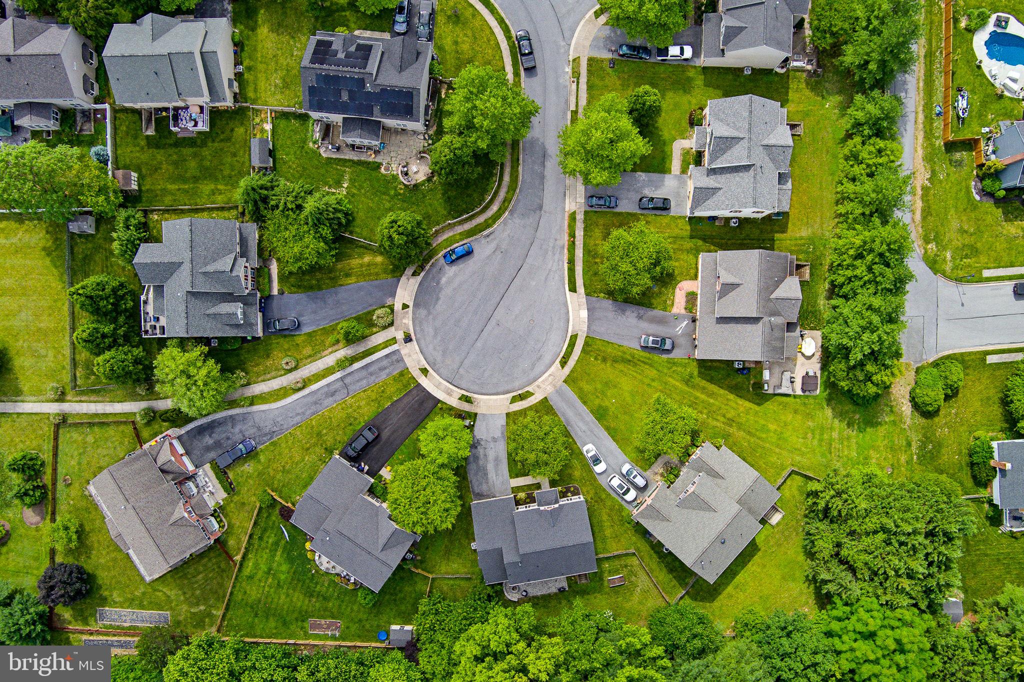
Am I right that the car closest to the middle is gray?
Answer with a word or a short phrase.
No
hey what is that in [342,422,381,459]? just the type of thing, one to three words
truck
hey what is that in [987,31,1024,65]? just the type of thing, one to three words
swimming pool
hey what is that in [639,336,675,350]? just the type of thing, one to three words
car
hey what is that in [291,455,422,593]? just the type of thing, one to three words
house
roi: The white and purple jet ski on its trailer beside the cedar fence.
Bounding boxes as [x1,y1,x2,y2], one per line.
[953,93,969,124]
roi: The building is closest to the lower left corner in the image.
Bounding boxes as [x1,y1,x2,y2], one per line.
[90,434,226,583]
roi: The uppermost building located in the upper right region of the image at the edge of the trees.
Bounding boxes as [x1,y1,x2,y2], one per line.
[700,0,812,64]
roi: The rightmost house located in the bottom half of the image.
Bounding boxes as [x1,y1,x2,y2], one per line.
[986,440,1024,510]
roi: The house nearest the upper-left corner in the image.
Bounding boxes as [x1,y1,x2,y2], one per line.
[0,15,102,128]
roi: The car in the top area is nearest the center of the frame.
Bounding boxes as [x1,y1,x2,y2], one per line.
[442,242,475,265]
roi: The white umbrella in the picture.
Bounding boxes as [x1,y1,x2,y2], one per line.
[799,337,817,356]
